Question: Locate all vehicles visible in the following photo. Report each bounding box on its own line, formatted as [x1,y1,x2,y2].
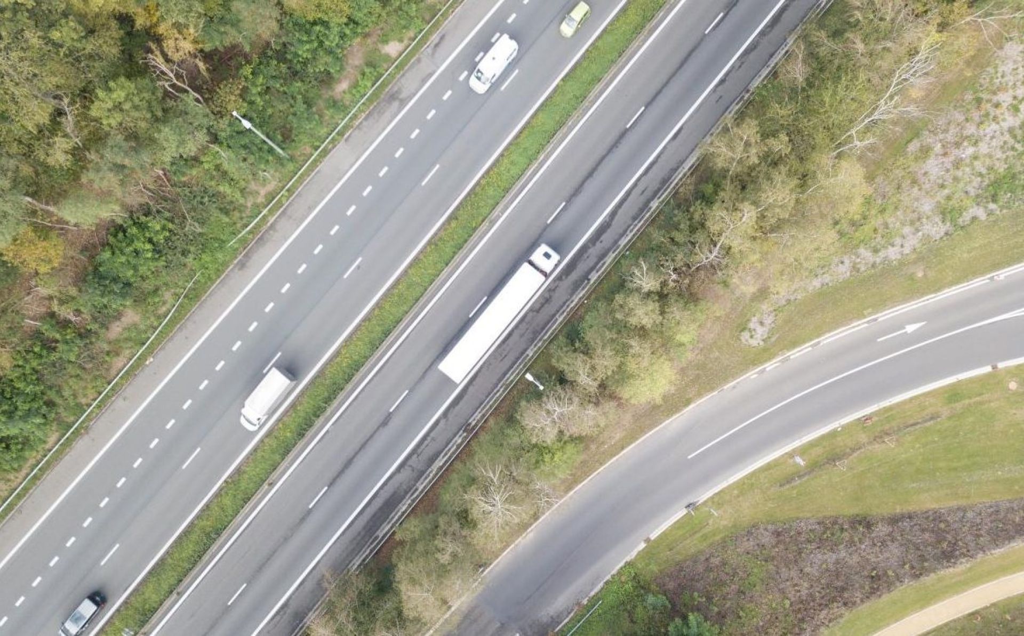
[470,35,519,95]
[559,1,592,39]
[64,589,108,636]
[438,243,561,383]
[242,370,294,426]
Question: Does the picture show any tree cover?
Yes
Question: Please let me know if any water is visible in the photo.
No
